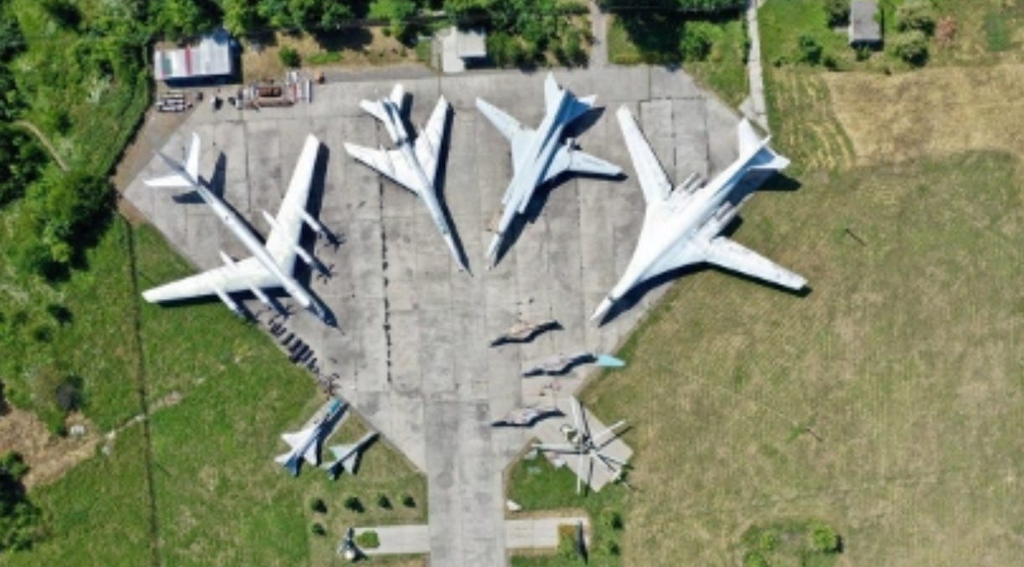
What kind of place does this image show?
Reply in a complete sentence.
This image shows an airport.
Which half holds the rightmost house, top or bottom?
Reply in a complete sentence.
The rightmost house sits in the top half of the picture.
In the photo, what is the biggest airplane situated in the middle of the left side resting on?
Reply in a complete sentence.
It looks like the biggest airplane situated in the middle of the left side is sitting on the apron.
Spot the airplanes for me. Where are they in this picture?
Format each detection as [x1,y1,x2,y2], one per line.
[592,103,807,319]
[487,319,561,350]
[488,403,562,434]
[273,398,345,477]
[320,430,381,480]
[522,351,597,381]
[475,74,626,268]
[143,132,336,325]
[341,78,470,275]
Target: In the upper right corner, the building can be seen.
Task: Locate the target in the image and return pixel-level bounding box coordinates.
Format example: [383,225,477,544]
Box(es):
[846,0,880,42]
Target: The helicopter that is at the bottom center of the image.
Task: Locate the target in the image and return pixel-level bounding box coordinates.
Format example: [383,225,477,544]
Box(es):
[534,398,629,492]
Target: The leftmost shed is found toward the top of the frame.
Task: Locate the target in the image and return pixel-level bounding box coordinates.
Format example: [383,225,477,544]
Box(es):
[155,33,234,81]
